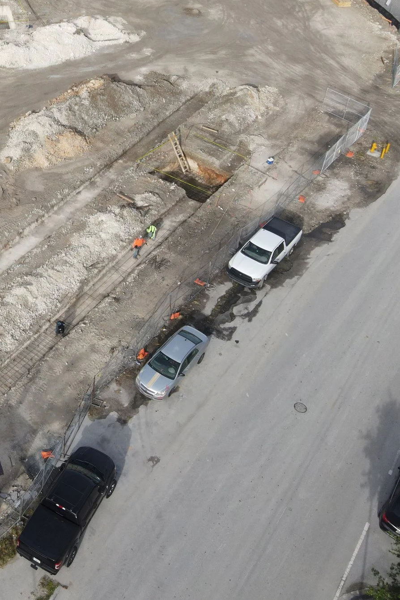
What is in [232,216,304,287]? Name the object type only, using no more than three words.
truck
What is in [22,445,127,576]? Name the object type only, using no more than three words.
truck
